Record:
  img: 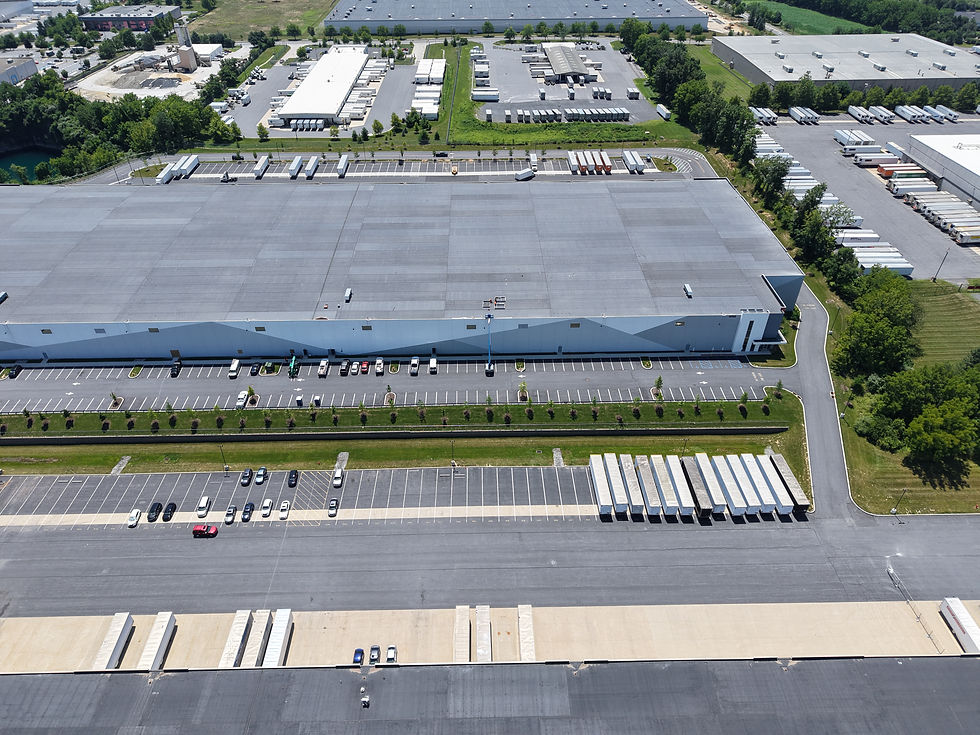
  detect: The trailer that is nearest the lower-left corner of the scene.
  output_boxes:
[90,612,134,670]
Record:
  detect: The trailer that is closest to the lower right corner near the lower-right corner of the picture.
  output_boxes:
[940,597,980,653]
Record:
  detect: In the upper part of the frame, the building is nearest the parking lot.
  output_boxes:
[0,180,805,363]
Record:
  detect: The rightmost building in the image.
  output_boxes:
[902,133,980,204]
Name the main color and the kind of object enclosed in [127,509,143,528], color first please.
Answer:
white car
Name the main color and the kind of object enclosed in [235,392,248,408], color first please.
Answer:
white vehicle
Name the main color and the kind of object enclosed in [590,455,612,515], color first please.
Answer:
white trailer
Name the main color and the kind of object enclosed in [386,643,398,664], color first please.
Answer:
white vehicle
